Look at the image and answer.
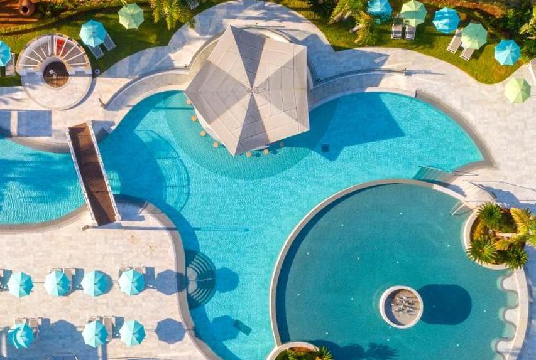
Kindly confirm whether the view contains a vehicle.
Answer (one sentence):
No, there appears to be no vehicle in this shot.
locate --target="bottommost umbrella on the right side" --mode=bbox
[502,76,529,102]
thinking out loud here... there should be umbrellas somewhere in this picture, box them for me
[118,2,145,29]
[82,320,110,347]
[502,76,529,102]
[8,269,35,296]
[46,269,71,294]
[119,320,145,346]
[118,267,145,294]
[84,269,108,294]
[461,25,485,49]
[431,8,457,34]
[81,21,107,47]
[492,40,520,66]
[0,42,11,67]
[8,322,35,348]
[366,0,391,22]
[401,0,425,25]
